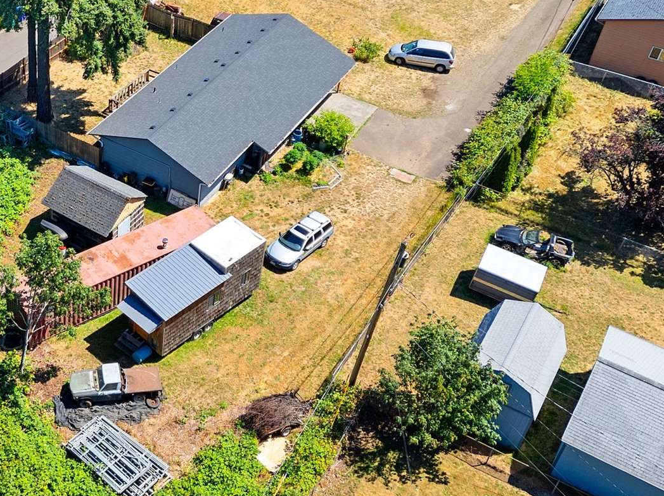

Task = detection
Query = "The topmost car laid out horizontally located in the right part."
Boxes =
[386,42,455,76]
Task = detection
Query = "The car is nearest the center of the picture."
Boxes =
[267,207,335,270]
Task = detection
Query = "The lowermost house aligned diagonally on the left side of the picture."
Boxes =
[115,215,266,365]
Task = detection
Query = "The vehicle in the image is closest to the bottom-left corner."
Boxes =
[69,364,167,409]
